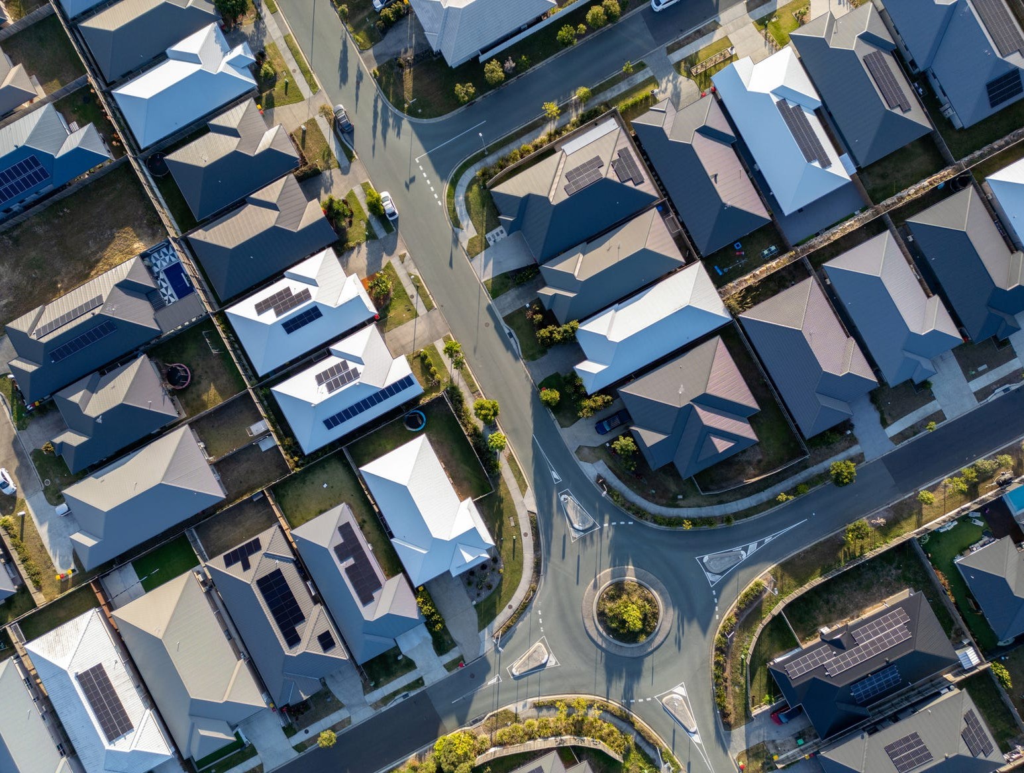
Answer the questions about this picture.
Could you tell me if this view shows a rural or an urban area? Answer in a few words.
urban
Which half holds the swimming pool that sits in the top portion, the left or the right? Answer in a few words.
left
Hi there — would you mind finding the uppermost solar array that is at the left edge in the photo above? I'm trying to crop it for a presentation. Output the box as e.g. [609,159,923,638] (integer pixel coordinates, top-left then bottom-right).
[0,150,55,205]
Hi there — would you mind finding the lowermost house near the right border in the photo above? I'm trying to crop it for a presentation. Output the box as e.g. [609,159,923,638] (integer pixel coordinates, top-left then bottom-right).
[816,688,1004,773]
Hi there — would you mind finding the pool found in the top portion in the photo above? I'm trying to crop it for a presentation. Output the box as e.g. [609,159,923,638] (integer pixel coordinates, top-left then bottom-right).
[161,260,193,300]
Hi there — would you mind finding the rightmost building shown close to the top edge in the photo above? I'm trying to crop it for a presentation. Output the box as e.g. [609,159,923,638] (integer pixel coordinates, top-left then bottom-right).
[872,0,1024,130]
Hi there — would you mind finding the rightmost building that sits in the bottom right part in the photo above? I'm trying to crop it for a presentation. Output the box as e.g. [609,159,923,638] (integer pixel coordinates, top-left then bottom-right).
[947,531,1024,644]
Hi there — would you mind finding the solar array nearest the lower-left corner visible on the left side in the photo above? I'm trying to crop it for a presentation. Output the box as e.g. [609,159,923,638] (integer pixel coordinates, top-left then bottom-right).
[72,660,137,746]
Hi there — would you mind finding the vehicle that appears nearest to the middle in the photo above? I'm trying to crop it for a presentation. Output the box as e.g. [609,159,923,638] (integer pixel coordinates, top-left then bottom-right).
[594,410,632,434]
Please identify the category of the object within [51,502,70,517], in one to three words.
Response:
car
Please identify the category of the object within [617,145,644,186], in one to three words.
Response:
solar array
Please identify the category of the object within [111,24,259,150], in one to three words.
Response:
house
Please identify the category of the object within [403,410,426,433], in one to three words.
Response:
trampoline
